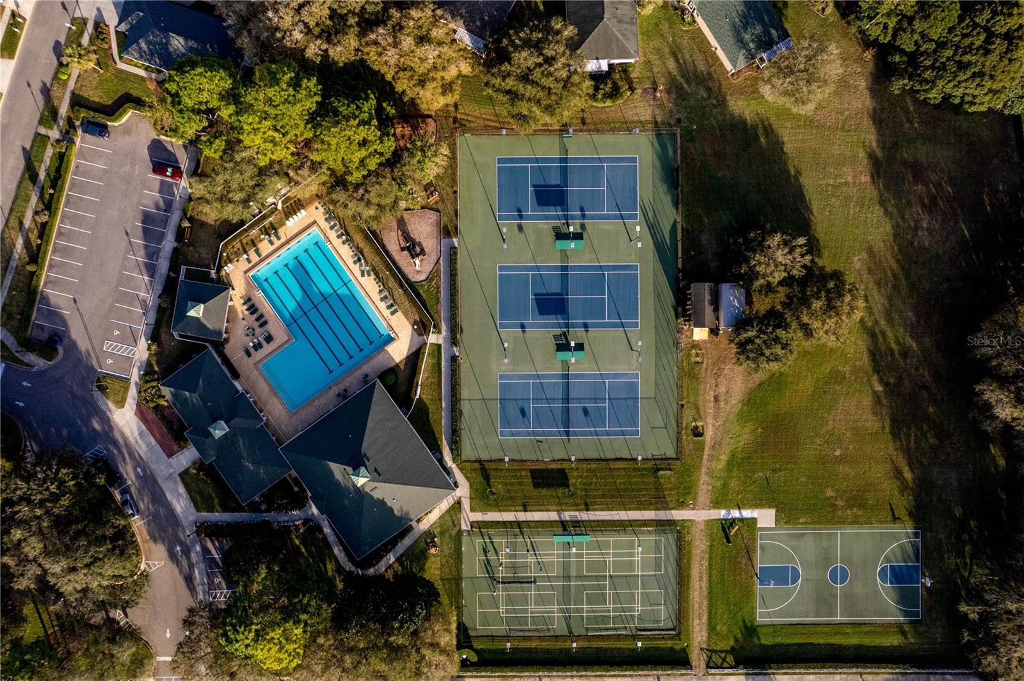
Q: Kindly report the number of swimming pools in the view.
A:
one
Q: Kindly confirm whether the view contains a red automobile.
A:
Yes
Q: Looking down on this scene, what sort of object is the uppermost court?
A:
tennis court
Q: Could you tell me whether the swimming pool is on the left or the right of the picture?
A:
left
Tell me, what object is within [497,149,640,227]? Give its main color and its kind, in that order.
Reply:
blue tennis court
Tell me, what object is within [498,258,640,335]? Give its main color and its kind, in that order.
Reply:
blue tennis court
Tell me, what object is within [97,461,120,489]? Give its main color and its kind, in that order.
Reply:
black car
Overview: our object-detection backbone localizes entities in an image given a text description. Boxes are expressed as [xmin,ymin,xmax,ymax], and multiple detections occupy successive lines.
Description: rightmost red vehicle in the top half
[150,162,180,180]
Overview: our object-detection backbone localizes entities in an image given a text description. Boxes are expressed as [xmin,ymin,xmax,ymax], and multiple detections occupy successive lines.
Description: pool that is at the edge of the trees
[241,221,402,421]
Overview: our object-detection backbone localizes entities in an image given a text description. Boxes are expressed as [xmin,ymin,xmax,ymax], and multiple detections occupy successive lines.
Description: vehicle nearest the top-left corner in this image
[78,120,108,138]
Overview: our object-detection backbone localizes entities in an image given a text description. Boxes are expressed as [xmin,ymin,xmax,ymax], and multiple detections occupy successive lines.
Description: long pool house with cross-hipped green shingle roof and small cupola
[158,349,293,507]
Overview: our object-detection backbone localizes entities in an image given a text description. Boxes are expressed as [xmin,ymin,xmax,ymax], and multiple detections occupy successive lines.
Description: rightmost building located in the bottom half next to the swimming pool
[278,378,457,563]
